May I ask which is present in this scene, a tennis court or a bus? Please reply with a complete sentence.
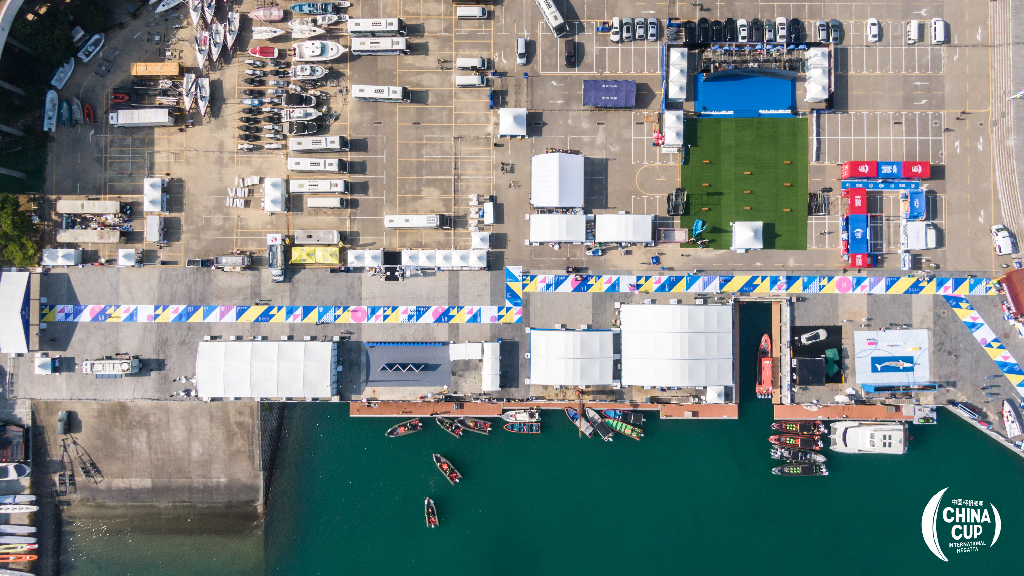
Visible in the photo is a bus.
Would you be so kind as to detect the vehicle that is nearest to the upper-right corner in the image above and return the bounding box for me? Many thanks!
[928,20,944,46]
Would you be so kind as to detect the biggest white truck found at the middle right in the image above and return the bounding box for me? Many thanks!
[893,220,931,249]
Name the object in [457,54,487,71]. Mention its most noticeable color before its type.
white vehicle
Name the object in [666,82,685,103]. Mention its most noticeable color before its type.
white tent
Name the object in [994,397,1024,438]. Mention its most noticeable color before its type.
white boat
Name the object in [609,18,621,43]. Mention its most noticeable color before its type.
white vehicle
